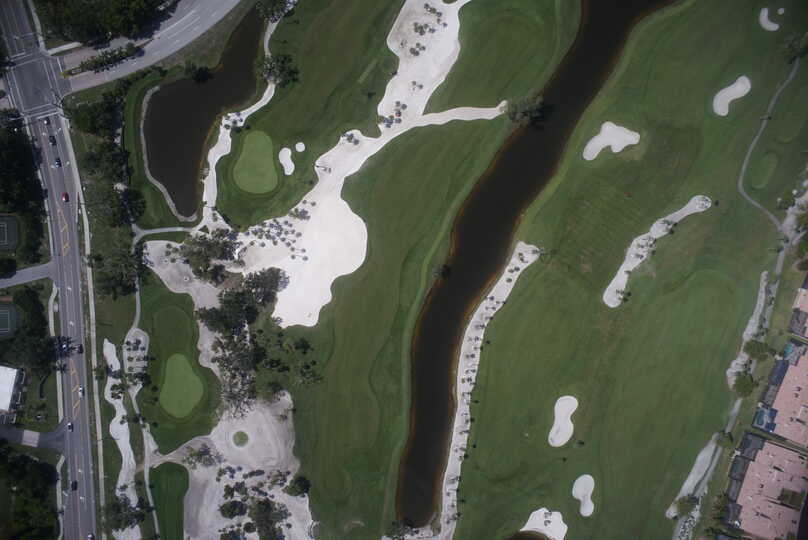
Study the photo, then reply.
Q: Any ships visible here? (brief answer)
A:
No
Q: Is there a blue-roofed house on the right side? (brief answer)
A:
No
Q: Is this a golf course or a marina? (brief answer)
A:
golf course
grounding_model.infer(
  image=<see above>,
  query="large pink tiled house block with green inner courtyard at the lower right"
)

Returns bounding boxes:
[723,439,808,540]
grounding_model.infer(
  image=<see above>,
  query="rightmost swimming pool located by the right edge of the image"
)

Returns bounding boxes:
[784,343,802,364]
